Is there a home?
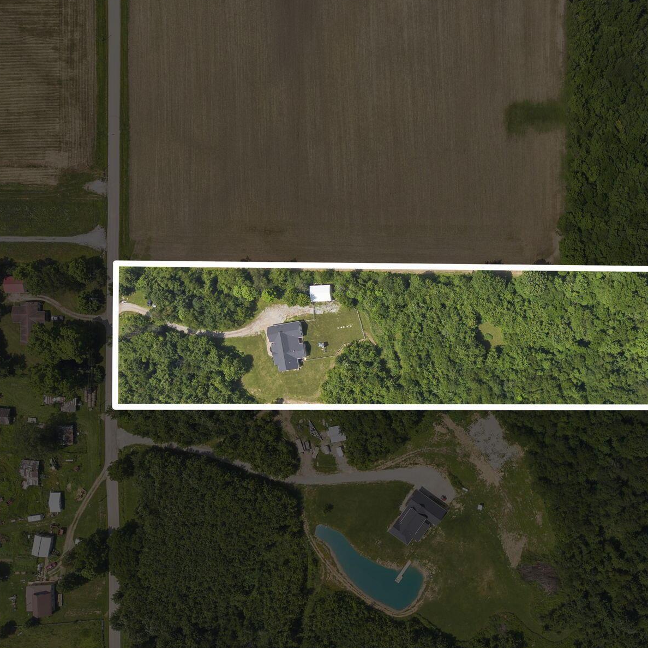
Yes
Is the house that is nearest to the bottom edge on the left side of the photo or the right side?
left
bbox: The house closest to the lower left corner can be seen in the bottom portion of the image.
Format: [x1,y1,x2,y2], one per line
[25,585,57,616]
